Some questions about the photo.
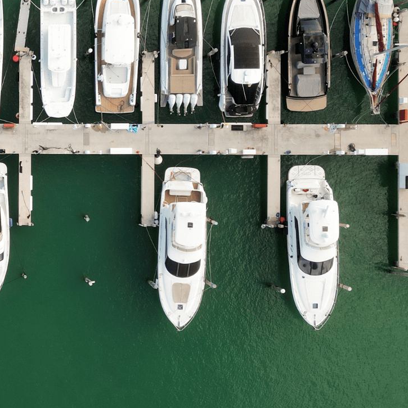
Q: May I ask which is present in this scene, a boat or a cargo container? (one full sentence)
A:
The image shows a boat.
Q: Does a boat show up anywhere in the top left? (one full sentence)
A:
Yes, a boat can be seen in the top left.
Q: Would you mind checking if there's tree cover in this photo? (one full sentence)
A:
No, there's no tree cover in this view.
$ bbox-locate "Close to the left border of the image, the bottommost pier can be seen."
[16,154,35,226]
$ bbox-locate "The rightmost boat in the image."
[353,0,408,114]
